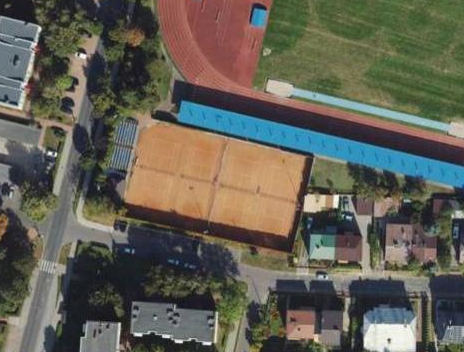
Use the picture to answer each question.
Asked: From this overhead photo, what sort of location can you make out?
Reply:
sports ground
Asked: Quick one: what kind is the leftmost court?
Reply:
tennis court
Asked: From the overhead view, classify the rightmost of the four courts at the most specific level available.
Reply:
tennis court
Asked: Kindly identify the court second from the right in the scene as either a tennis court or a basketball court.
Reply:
tennis court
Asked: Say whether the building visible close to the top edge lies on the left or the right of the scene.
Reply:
left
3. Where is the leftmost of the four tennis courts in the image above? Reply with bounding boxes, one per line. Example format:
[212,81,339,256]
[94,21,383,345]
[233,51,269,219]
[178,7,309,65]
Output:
[124,122,188,224]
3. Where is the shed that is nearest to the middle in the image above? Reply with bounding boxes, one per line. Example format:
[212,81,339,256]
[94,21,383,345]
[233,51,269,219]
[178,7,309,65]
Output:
[304,195,340,212]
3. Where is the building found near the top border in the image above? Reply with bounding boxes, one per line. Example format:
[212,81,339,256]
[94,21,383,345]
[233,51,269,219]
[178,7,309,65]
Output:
[0,15,43,108]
